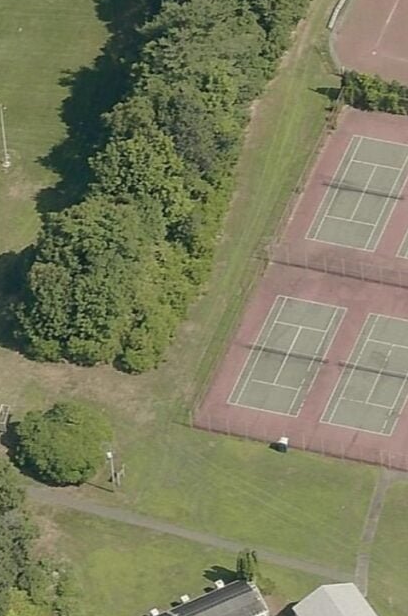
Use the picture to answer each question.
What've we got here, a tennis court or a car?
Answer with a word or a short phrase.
tennis court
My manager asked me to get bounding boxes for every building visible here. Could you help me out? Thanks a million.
[292,582,377,616]
[160,579,265,616]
